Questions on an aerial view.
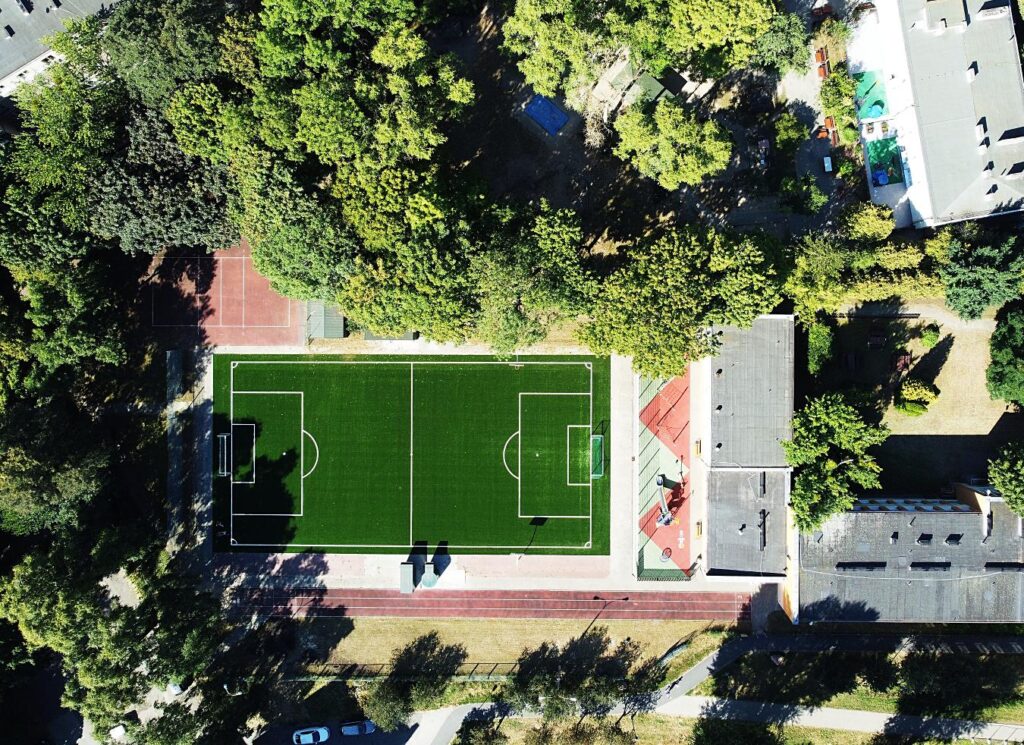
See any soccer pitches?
Yes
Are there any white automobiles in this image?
No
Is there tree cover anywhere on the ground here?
Yes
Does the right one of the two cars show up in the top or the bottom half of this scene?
bottom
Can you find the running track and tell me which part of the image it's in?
bottom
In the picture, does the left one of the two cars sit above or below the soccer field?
below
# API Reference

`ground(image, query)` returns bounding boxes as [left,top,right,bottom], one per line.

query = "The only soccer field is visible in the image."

[212,354,610,556]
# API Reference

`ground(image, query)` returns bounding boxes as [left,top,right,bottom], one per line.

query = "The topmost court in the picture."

[148,232,310,346]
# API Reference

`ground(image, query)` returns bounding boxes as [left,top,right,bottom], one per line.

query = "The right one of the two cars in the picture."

[340,717,377,739]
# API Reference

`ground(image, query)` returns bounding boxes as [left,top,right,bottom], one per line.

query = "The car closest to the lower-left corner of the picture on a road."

[292,725,330,745]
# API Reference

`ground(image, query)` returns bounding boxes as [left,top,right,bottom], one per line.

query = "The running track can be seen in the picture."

[226,588,753,621]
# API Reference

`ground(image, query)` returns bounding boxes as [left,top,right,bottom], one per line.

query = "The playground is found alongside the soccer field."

[640,350,690,577]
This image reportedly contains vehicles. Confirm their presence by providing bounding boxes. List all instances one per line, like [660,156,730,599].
[292,725,330,745]
[340,717,377,739]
